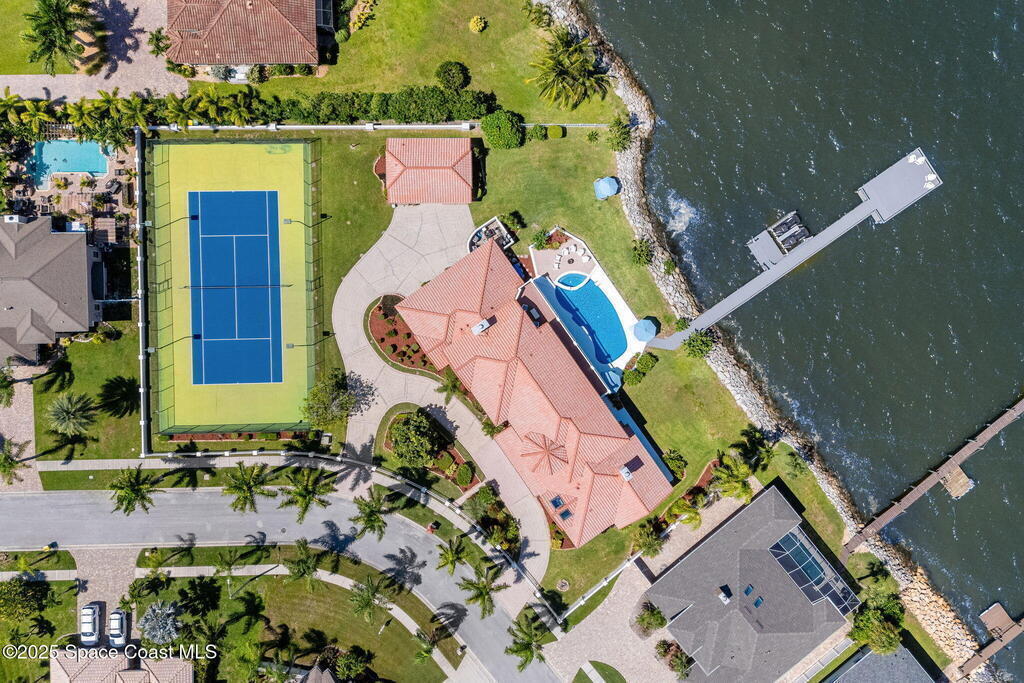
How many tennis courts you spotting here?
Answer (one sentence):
The count comes to 1 tennis court.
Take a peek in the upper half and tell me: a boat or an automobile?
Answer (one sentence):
What appears in the upper half is a boat.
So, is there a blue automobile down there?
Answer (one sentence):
No, I can't see a single blue automobile in this photo.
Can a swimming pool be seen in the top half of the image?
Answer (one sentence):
Yes, a swimming pool is visible in the top half of the image.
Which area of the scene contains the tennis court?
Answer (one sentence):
Look in the left portion of the view to spot the tennis court.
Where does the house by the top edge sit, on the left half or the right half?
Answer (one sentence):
The house by the top edge sits on the left side.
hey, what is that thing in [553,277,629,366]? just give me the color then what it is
blue swimming pool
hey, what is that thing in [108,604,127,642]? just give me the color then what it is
white car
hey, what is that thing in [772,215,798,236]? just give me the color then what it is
gray boat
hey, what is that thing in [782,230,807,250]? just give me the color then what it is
gray boat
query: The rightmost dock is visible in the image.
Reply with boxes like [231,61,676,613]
[957,599,1024,675]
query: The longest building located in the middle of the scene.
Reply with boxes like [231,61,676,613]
[394,238,676,549]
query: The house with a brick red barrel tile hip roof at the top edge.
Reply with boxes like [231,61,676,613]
[163,0,320,72]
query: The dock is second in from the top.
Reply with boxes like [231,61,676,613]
[841,401,1024,554]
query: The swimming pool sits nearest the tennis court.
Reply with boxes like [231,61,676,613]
[27,138,111,193]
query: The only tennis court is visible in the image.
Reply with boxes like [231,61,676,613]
[155,144,314,433]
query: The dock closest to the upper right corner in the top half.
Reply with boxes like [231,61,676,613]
[670,145,944,343]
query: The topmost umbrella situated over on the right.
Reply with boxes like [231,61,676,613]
[633,318,656,340]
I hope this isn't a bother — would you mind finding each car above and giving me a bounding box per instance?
[108,604,127,642]
[79,601,100,642]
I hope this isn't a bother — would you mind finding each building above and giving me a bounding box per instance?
[394,238,676,549]
[646,485,846,683]
[822,645,934,683]
[0,213,138,366]
[307,664,341,683]
[163,0,320,72]
[49,644,199,683]
[385,137,473,204]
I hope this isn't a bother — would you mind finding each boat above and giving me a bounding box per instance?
[772,215,798,236]
[782,230,807,250]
